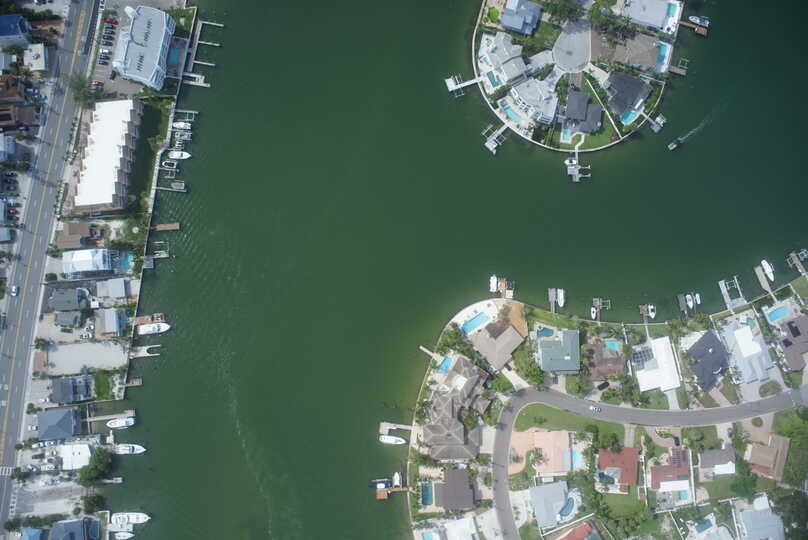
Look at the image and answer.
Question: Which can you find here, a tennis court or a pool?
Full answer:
I can see a pool in this picture.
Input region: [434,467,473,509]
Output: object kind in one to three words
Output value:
house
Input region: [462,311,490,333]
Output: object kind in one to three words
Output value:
swimming pool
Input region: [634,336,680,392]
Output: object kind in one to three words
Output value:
house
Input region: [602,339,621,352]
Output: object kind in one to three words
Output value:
swimming pool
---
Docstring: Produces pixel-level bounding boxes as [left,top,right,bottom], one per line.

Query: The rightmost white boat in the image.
[761,259,774,281]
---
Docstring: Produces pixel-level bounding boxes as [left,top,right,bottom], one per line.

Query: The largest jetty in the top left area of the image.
[188,19,225,73]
